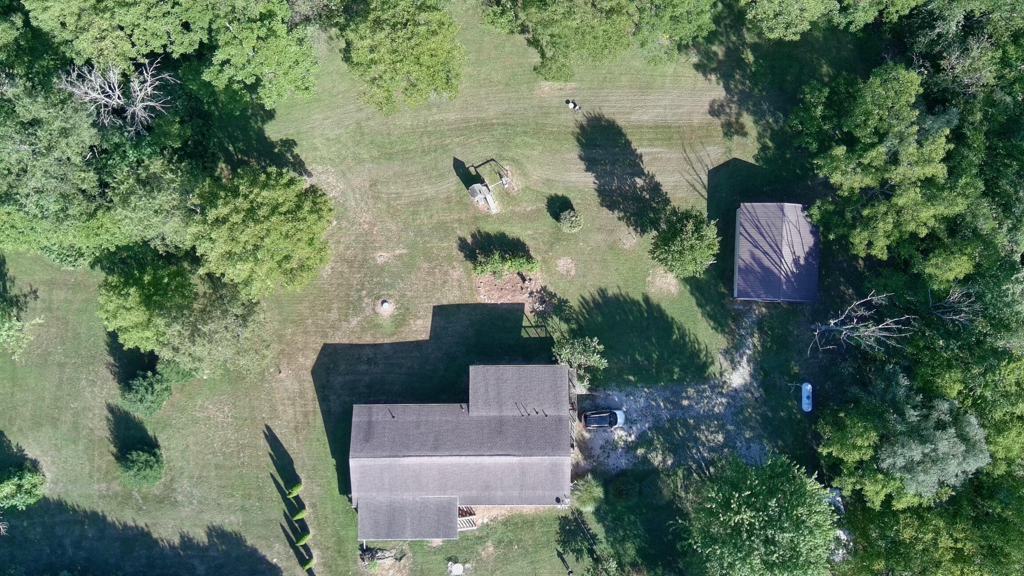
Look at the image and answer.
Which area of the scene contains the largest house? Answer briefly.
bottom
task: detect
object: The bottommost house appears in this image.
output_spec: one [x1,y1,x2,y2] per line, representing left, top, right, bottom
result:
[349,365,571,540]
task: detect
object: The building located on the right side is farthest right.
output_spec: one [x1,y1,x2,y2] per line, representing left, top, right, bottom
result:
[732,202,820,302]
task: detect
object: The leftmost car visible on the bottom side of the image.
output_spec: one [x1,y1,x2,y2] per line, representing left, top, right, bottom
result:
[581,408,624,429]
